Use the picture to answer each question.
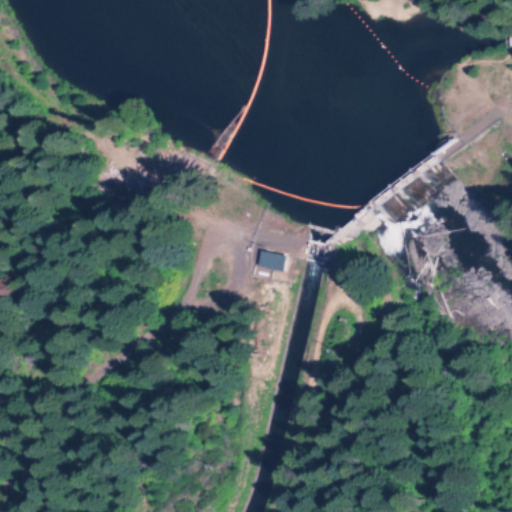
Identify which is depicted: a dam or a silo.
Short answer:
dam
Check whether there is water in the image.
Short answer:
Yes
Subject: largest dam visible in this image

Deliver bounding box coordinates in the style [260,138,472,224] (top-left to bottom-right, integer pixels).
[320,135,466,250]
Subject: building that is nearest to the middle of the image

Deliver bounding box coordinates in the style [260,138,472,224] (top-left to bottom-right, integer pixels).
[259,250,285,271]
